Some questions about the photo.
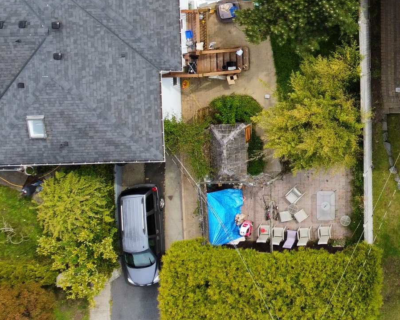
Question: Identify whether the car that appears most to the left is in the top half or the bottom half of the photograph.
bottom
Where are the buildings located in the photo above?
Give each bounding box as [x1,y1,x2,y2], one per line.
[211,124,255,181]
[0,0,199,171]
